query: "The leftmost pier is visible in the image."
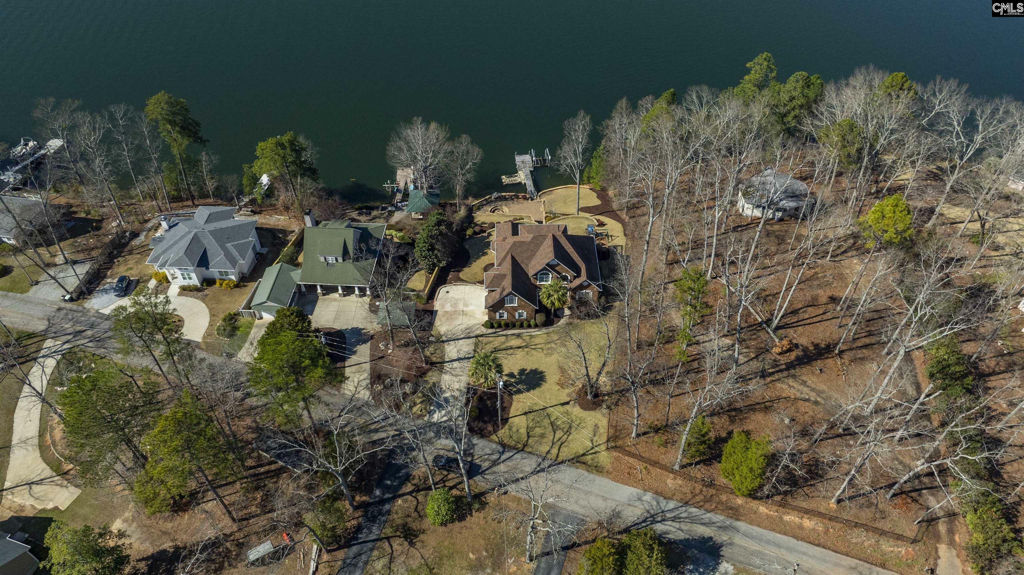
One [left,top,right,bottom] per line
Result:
[1,139,72,183]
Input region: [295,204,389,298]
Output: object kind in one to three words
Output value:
building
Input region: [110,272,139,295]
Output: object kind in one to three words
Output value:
car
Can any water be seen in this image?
Yes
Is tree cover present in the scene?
Yes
